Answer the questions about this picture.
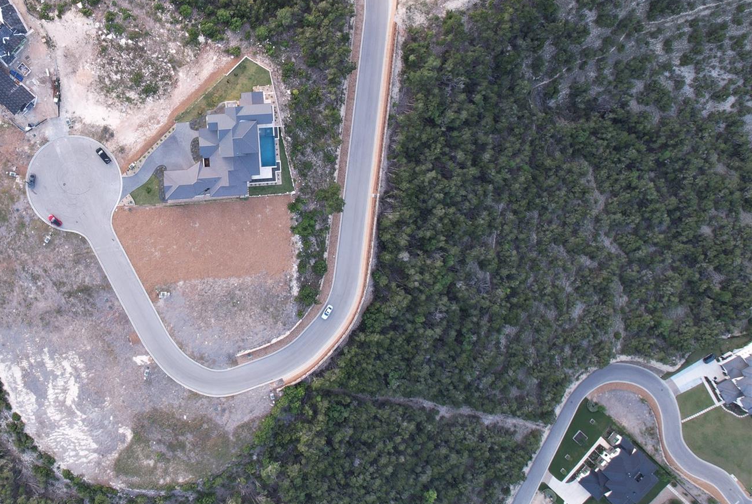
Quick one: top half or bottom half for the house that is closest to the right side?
bottom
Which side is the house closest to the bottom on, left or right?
right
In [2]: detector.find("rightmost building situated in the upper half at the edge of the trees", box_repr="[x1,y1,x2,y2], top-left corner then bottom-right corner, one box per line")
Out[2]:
[164,91,273,199]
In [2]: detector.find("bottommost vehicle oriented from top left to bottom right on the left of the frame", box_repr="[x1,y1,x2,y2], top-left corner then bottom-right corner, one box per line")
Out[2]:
[46,214,64,229]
